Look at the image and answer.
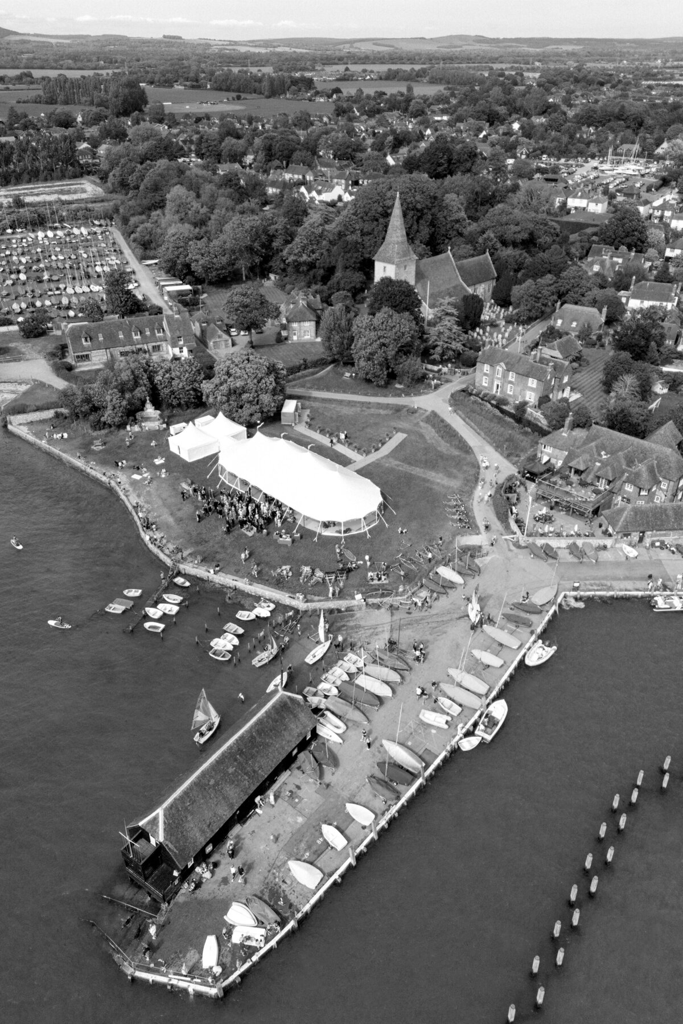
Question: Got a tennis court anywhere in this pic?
No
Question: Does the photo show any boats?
Yes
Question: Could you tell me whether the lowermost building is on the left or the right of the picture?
left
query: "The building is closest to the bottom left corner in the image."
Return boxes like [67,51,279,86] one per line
[120,687,317,908]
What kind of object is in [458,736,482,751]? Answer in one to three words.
boat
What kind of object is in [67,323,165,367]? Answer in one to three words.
barn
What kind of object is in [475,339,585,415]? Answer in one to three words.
house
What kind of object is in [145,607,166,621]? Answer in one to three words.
boat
